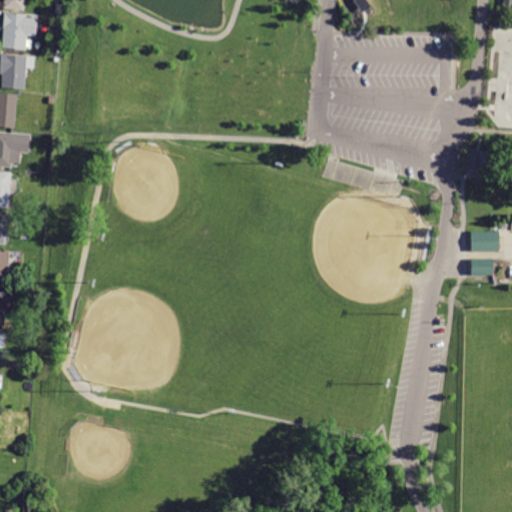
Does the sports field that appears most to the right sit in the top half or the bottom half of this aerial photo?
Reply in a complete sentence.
Seen from above, the sports field that appears most to the right lies in the bottom half of the view.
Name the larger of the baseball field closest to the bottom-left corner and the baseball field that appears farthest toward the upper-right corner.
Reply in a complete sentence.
The baseball field that appears farthest toward the upper-right corner is larger than the baseball field closest to the bottom-left corner.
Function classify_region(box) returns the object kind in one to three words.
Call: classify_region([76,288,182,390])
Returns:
baseball field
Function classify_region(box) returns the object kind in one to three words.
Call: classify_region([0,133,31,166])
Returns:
house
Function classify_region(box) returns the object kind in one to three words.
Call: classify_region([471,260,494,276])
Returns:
shed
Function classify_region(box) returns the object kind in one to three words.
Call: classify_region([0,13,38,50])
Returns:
house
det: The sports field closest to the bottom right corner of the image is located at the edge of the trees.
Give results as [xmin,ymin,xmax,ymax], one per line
[460,307,512,512]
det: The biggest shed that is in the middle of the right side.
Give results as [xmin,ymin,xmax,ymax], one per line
[471,232,500,251]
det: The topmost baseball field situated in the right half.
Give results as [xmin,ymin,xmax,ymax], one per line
[312,195,414,304]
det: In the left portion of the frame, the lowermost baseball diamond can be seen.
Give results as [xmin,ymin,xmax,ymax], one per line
[69,420,132,480]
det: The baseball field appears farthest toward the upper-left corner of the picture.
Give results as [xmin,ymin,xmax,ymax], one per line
[113,146,180,222]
